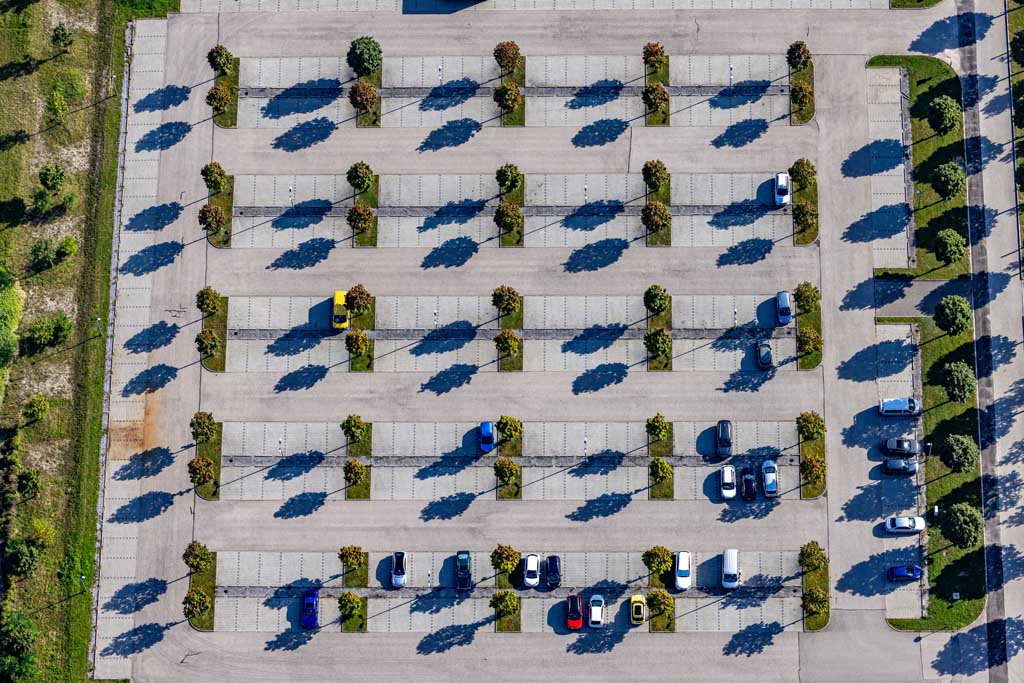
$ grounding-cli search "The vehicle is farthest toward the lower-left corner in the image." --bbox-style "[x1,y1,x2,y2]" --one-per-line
[301,590,319,630]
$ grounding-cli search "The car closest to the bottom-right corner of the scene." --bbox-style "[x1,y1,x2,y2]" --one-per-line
[888,566,921,583]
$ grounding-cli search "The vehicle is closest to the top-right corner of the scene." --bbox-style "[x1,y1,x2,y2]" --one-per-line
[774,174,791,206]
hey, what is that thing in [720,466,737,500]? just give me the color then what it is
white car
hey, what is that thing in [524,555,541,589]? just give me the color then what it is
white car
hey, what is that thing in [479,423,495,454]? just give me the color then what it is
blue car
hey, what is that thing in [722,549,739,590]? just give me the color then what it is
white vehicle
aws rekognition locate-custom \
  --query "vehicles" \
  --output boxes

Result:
[740,470,757,503]
[880,397,921,417]
[716,421,734,458]
[882,438,918,455]
[722,549,739,590]
[588,596,606,630]
[756,342,773,373]
[545,556,562,591]
[524,555,541,589]
[479,423,495,454]
[566,596,583,631]
[776,293,793,325]
[885,516,925,534]
[720,466,737,500]
[301,590,319,630]
[331,290,349,330]
[883,459,919,476]
[774,174,791,206]
[630,596,645,627]
[675,552,693,591]
[762,462,780,499]
[888,566,921,583]
[455,552,472,592]
[390,552,408,589]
